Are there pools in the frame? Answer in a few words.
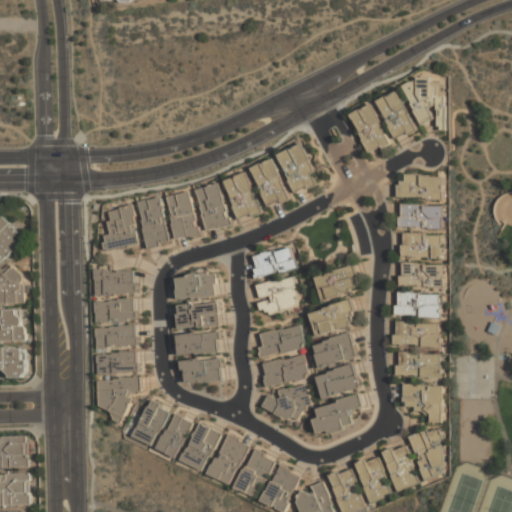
No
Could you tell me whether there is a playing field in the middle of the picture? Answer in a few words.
No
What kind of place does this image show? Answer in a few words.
residential area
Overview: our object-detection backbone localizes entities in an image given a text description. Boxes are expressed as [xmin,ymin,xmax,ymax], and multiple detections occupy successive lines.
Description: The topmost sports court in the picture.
[457,357,494,399]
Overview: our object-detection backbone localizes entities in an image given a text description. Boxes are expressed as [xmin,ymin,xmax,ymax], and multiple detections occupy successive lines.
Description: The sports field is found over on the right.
[460,400,496,464]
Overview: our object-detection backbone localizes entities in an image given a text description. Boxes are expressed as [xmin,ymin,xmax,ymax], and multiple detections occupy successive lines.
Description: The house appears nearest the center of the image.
[252,248,296,278]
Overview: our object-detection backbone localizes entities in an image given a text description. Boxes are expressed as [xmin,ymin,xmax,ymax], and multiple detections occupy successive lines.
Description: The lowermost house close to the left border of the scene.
[0,474,32,507]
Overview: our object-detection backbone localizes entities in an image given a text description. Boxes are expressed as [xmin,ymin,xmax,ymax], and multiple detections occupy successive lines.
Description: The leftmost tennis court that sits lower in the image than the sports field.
[441,463,488,512]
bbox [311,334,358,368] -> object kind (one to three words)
house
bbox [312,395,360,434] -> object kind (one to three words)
house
